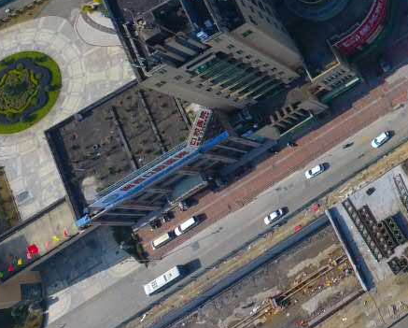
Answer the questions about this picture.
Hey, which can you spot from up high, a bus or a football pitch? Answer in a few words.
bus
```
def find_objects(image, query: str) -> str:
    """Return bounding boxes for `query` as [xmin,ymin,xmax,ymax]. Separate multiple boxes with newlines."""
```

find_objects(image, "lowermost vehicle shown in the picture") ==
[133,263,183,296]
